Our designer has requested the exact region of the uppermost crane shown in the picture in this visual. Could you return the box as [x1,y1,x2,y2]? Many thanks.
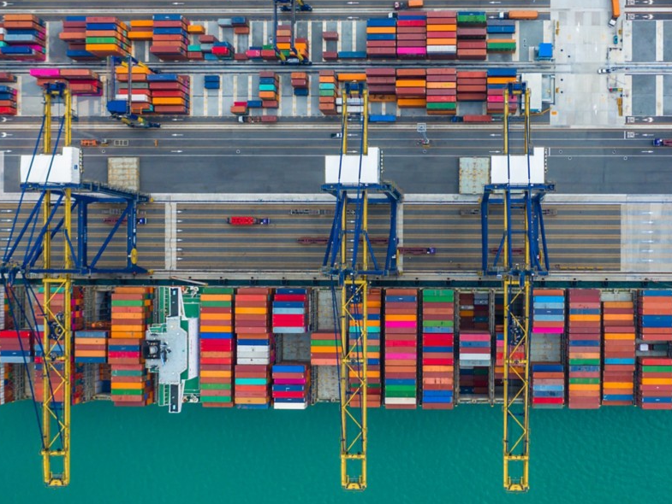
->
[271,0,312,64]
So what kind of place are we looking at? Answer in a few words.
port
